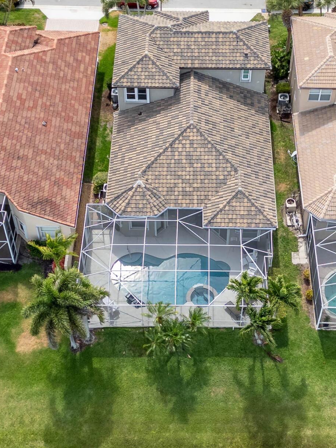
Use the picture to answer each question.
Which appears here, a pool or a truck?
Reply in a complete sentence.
Of the two, only a pool appears.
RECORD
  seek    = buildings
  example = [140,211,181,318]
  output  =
[0,26,102,248]
[103,8,280,251]
[287,9,336,245]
